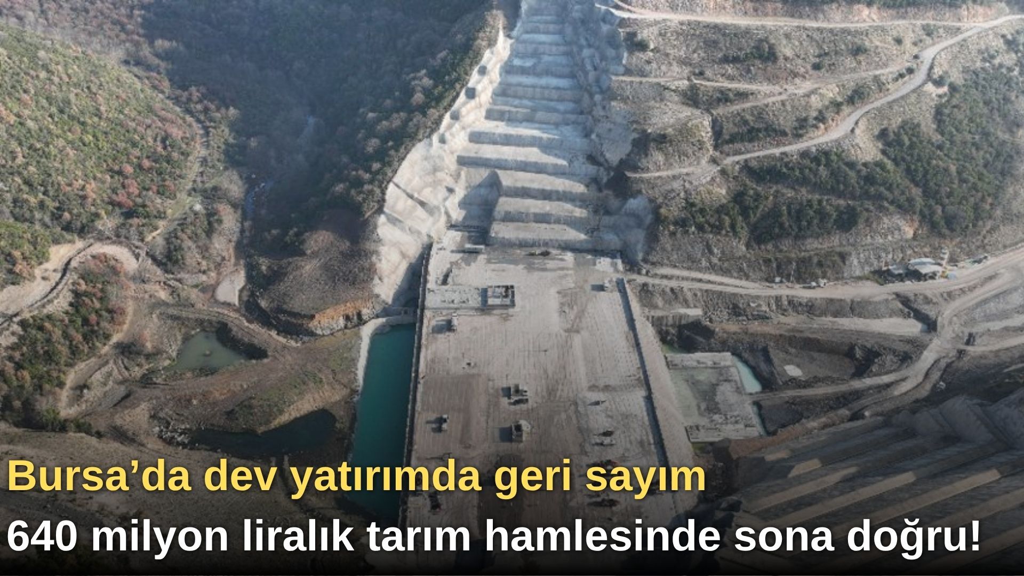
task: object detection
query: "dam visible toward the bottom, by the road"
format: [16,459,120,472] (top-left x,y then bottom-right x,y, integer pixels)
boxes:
[397,247,712,576]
